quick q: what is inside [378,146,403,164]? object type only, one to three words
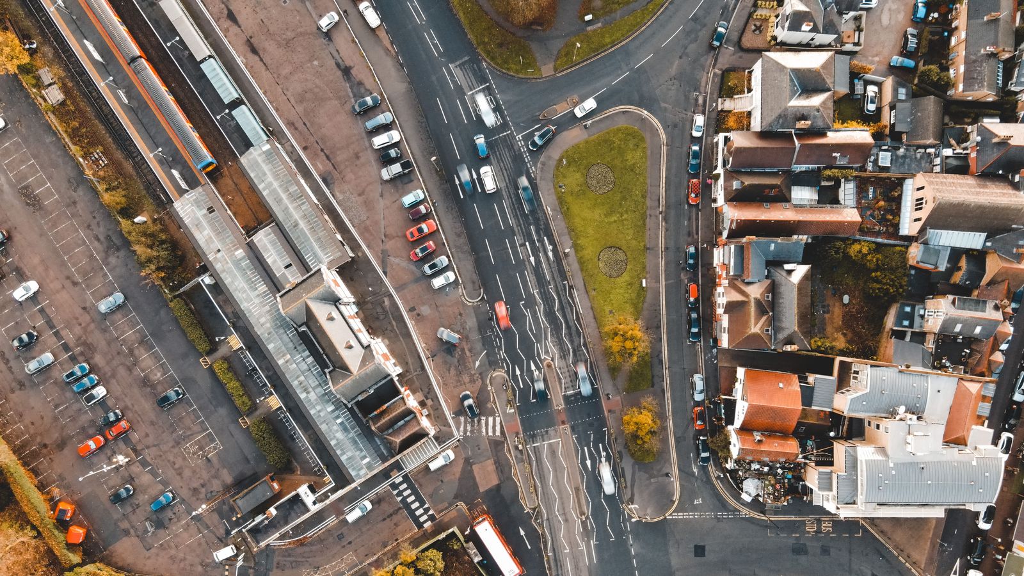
car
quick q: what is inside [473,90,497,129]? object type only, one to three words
vehicle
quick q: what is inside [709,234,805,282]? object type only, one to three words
house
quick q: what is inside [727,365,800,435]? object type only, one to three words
building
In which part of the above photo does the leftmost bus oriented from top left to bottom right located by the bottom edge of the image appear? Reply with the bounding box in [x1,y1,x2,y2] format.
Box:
[465,513,521,576]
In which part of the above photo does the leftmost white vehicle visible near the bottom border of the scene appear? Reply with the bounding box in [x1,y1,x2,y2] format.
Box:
[208,541,241,565]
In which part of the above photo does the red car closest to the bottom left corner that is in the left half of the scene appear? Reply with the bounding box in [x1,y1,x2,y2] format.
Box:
[77,436,106,456]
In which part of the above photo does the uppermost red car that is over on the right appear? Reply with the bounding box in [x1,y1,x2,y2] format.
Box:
[687,177,701,204]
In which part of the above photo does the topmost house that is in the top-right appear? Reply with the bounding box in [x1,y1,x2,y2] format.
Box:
[766,0,861,44]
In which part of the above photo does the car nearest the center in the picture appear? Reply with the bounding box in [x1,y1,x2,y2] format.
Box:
[495,301,510,328]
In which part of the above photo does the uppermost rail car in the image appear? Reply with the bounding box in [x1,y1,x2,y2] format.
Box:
[90,0,152,62]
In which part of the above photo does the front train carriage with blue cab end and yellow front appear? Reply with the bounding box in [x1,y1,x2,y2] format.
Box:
[132,54,222,170]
